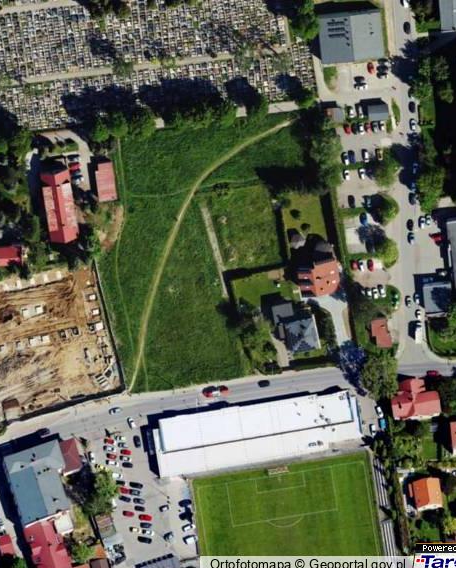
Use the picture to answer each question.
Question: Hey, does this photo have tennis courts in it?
No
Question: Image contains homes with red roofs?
Yes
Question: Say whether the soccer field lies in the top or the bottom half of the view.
bottom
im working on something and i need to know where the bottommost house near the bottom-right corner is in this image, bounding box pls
[409,479,443,507]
